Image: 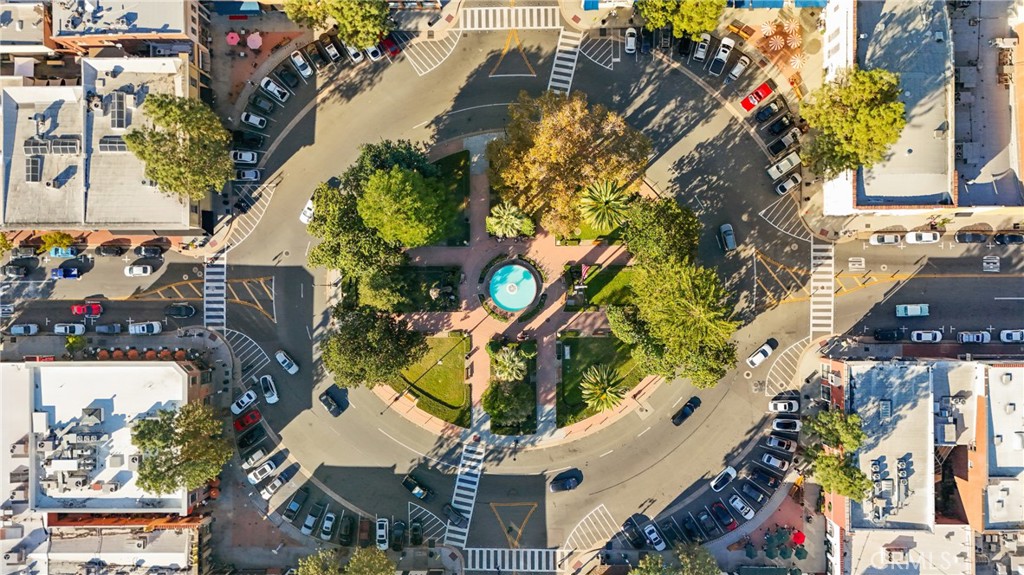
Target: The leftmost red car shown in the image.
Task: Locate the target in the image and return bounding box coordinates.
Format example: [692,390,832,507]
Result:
[72,302,105,316]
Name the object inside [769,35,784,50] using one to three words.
umbrella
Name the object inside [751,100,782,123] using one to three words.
car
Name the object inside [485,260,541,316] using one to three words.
fountain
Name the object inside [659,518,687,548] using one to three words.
car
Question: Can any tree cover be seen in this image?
Yes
